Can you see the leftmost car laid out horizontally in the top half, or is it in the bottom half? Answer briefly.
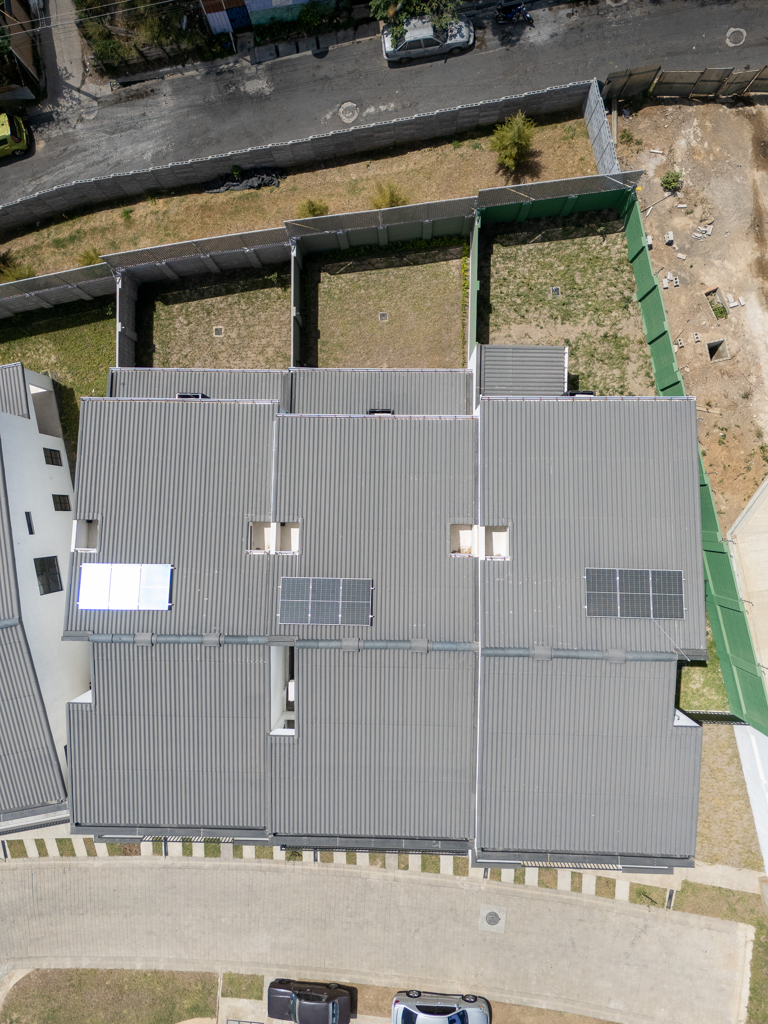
bottom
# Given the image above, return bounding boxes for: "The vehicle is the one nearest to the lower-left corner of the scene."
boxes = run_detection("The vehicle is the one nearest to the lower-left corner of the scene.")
[263,983,349,1024]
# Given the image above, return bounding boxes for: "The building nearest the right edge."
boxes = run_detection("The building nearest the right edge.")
[468,343,712,866]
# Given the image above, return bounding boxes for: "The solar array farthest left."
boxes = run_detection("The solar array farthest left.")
[75,563,176,611]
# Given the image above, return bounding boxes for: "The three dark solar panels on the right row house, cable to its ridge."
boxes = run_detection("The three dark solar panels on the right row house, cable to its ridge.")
[580,567,690,620]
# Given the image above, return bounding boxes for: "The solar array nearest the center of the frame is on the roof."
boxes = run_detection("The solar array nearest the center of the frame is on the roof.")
[275,577,376,626]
